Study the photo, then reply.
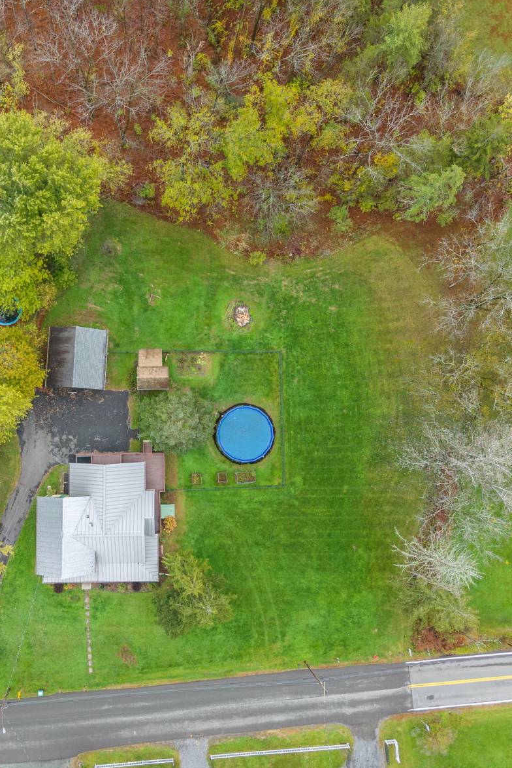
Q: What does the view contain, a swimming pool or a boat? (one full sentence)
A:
Looking from above, you can make out a swimming pool.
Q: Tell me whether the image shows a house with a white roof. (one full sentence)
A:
Yes, a house with a white roof can be made out from above.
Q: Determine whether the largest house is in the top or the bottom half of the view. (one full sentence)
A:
It is in the bottom half that the largest house appears.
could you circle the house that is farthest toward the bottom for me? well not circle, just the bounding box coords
[37,461,159,591]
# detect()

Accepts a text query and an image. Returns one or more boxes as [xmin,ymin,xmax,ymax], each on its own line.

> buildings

[137,349,168,390]
[37,461,159,591]
[46,325,110,391]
